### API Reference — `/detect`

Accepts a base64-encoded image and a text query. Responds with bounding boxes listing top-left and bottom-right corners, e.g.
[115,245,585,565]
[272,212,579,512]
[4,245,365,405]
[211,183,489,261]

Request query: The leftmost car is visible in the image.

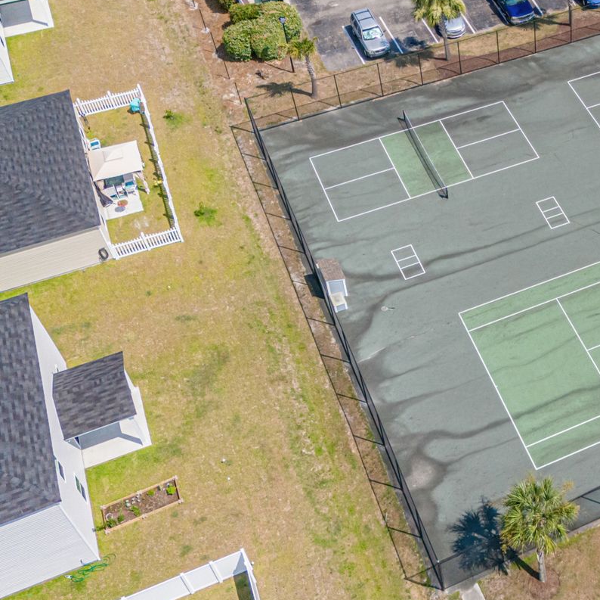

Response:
[348,7,391,59]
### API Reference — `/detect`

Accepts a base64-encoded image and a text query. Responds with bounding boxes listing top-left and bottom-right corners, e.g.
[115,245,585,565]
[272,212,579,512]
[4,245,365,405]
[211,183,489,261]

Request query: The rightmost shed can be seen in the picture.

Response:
[318,257,350,304]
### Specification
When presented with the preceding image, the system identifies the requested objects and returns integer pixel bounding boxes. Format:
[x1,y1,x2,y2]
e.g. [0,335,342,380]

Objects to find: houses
[0,0,59,86]
[0,88,114,294]
[0,296,159,596]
